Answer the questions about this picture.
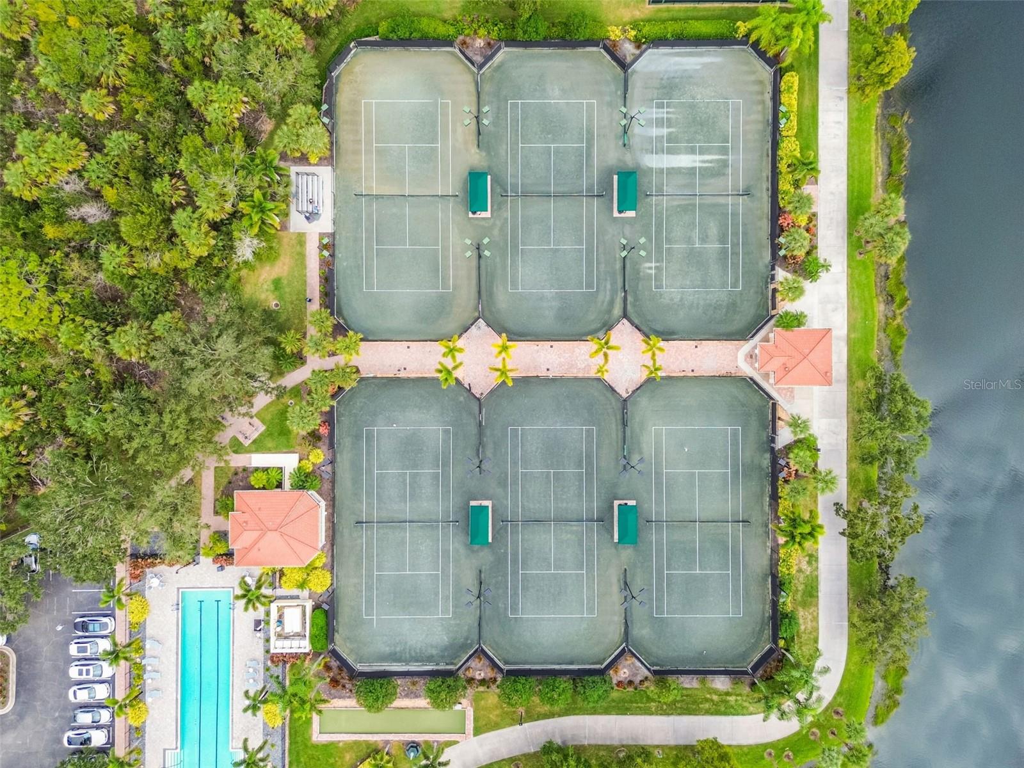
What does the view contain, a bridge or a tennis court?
tennis court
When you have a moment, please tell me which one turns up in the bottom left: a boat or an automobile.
automobile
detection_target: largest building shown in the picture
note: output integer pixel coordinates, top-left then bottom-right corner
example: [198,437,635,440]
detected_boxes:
[228,490,326,567]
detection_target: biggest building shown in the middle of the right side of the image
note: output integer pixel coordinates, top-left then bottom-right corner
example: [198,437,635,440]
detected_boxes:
[756,328,833,386]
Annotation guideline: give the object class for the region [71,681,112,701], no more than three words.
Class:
car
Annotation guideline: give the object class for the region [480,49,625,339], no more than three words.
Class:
tennis court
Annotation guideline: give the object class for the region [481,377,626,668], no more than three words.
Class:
tennis court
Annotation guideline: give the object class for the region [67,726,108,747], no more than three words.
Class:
car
